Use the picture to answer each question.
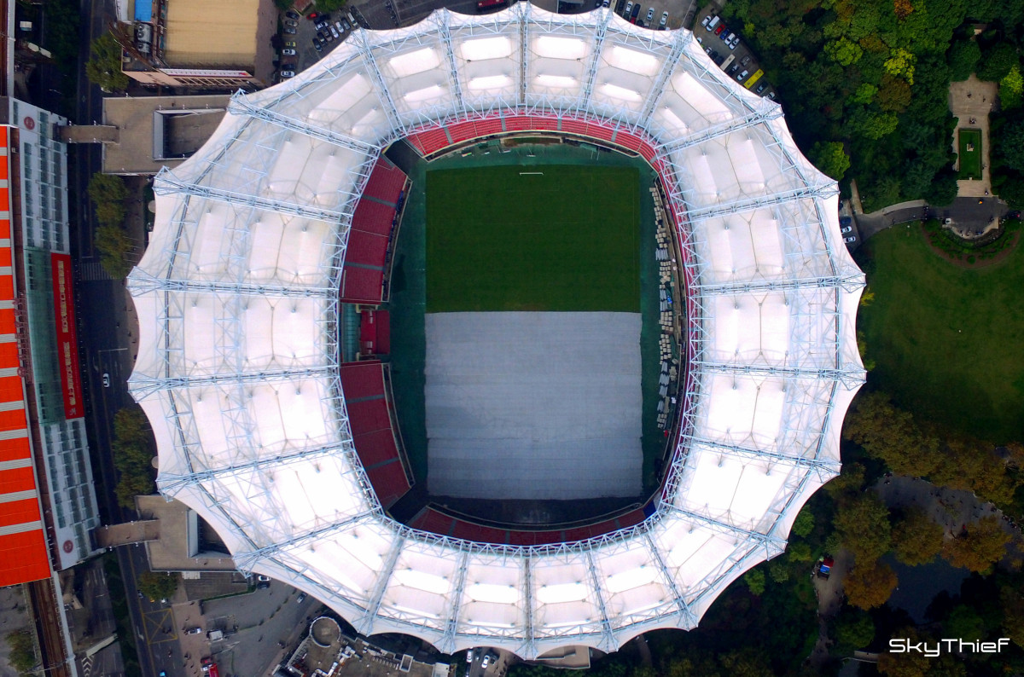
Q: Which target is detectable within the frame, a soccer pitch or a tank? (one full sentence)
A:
Looking from above, you can make out a soccer pitch.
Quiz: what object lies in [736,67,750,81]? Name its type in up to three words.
car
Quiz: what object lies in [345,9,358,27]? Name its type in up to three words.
vehicle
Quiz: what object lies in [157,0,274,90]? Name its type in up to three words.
building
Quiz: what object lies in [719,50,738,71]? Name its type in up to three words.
vehicle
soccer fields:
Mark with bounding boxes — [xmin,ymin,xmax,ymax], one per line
[357,142,678,521]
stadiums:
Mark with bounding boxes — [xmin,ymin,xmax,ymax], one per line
[127,1,866,657]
